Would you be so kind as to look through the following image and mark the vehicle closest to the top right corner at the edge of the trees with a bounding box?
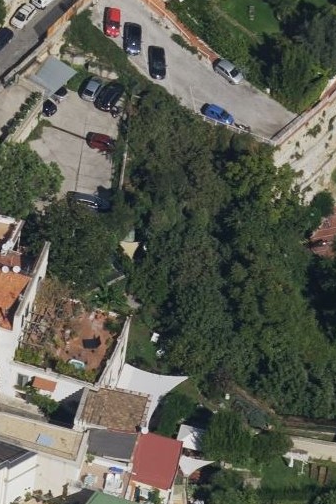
[210,58,245,87]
